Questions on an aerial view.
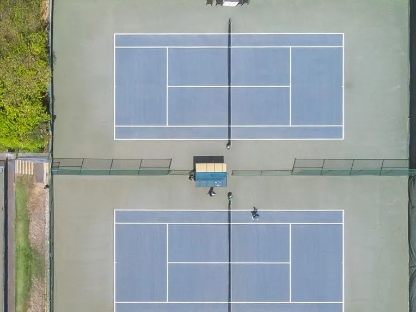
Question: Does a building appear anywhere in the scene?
No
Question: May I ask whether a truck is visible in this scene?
No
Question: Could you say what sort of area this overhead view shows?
sports ground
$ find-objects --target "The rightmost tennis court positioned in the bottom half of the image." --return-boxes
[52,175,409,312]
